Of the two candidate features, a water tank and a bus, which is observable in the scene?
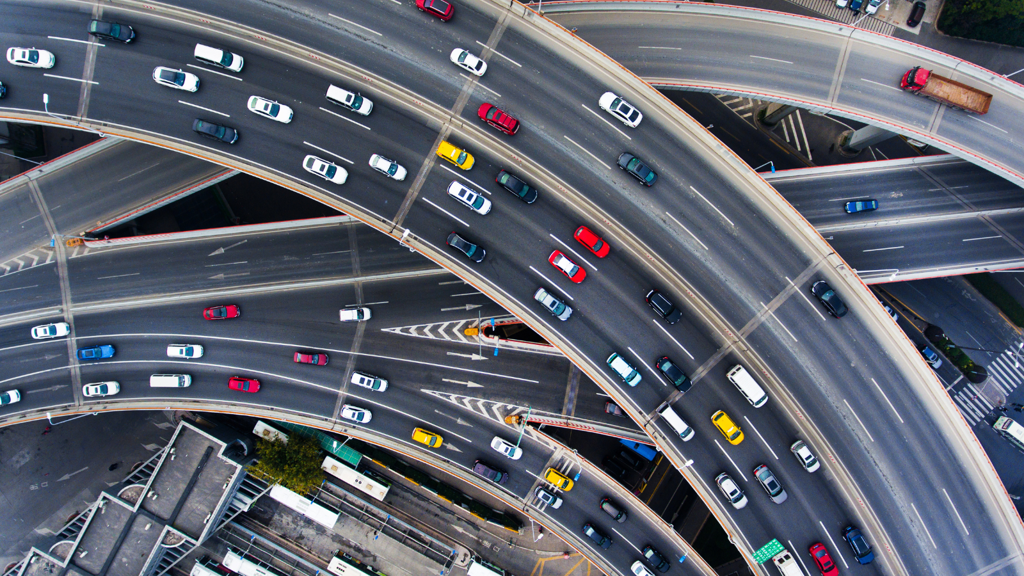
bus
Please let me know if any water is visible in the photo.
No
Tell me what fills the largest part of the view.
paved ground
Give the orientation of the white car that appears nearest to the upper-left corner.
from left to right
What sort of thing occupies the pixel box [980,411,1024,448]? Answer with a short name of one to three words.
bus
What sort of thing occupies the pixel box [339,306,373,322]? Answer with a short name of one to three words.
vehicle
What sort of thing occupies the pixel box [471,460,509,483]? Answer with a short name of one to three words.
car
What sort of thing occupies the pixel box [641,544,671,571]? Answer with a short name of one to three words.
car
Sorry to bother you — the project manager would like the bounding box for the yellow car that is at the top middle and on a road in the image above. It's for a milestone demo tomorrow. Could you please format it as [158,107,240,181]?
[436,142,475,171]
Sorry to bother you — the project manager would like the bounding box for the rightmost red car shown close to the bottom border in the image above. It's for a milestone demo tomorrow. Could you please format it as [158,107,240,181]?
[807,540,838,576]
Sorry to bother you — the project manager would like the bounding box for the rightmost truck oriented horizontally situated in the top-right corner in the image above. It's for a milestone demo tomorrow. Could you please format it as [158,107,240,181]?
[900,69,995,113]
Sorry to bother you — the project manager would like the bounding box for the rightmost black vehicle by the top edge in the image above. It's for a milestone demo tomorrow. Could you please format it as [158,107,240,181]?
[906,0,928,27]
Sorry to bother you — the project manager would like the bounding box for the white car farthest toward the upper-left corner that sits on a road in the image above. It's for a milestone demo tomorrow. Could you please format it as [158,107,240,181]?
[7,46,58,70]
